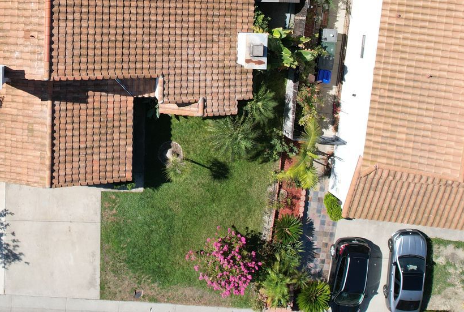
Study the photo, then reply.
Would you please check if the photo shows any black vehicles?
Yes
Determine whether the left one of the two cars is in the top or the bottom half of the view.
bottom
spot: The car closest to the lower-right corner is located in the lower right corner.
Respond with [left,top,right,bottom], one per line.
[389,233,437,312]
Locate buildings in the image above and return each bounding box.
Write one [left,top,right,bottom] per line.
[0,0,269,190]
[328,0,464,233]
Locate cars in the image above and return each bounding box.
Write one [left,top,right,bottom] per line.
[389,233,437,312]
[327,242,375,312]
